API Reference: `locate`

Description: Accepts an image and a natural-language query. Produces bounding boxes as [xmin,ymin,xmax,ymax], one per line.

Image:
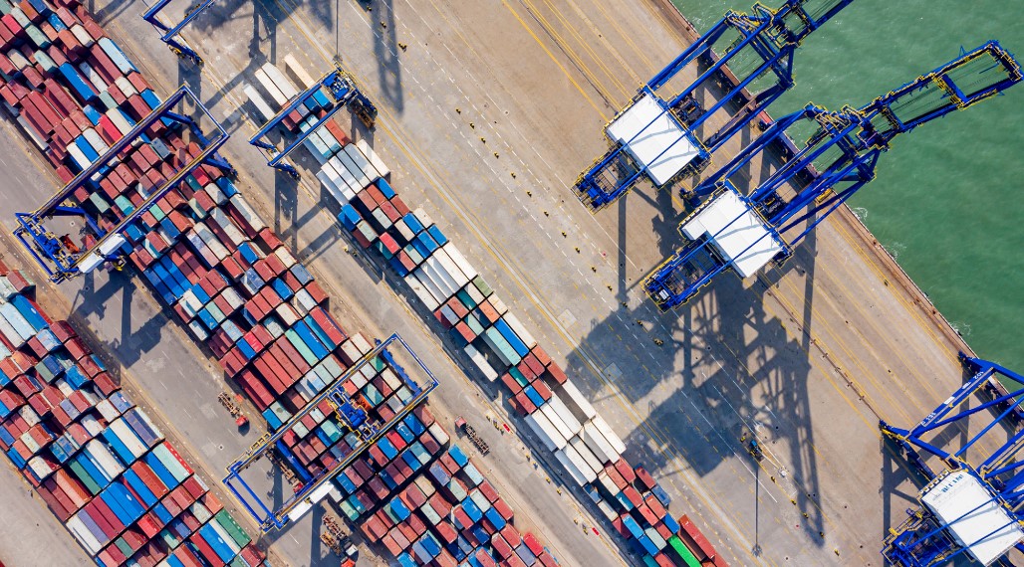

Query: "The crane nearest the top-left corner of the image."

[142,0,216,64]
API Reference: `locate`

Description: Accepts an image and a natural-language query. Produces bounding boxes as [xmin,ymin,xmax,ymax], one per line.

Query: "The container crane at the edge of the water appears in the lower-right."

[880,350,1024,567]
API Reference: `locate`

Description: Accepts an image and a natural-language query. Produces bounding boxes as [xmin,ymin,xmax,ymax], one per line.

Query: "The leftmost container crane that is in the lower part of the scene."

[220,332,442,537]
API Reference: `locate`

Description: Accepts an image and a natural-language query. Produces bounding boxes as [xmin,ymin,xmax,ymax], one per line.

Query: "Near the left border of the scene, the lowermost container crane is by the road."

[7,85,233,289]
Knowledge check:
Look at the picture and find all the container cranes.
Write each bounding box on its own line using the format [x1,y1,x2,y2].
[652,38,1020,311]
[249,62,377,180]
[880,350,1024,567]
[142,0,216,64]
[570,0,849,216]
[220,332,442,537]
[7,85,233,289]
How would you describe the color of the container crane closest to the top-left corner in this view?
blue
